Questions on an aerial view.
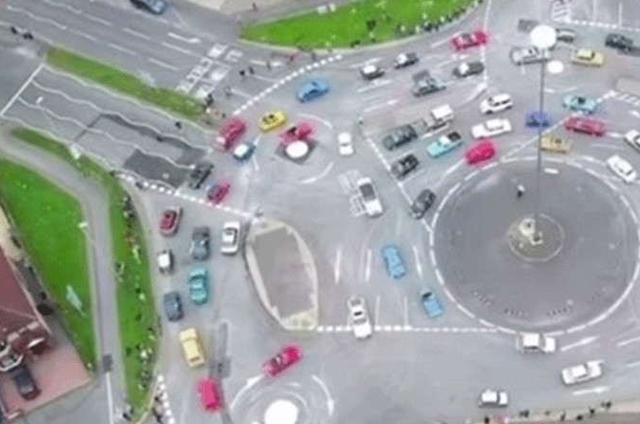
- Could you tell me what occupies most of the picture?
paved ground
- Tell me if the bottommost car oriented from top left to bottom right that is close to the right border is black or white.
white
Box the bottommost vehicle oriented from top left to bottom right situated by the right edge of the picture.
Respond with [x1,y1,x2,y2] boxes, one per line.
[605,153,639,185]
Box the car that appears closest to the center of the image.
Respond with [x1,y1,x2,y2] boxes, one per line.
[356,179,384,215]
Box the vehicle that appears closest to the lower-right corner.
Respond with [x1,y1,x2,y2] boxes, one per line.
[559,361,605,386]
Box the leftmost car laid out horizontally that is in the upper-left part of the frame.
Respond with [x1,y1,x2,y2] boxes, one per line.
[130,0,166,15]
